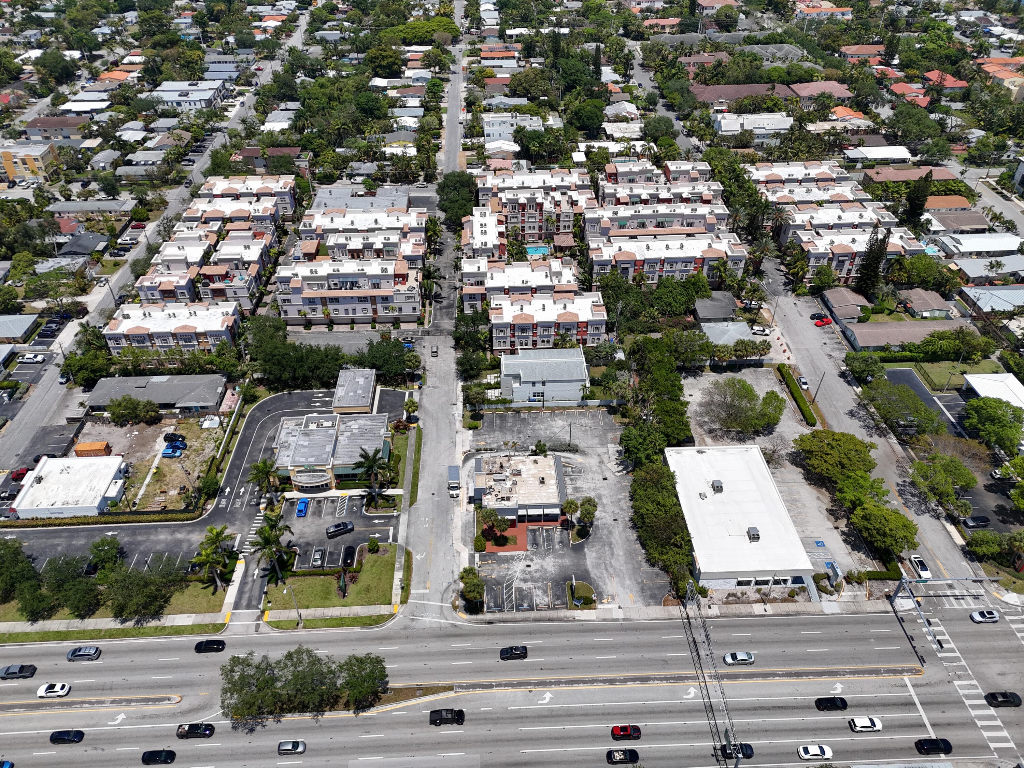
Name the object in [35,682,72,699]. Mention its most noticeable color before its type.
white car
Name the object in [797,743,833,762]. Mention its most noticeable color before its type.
white car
